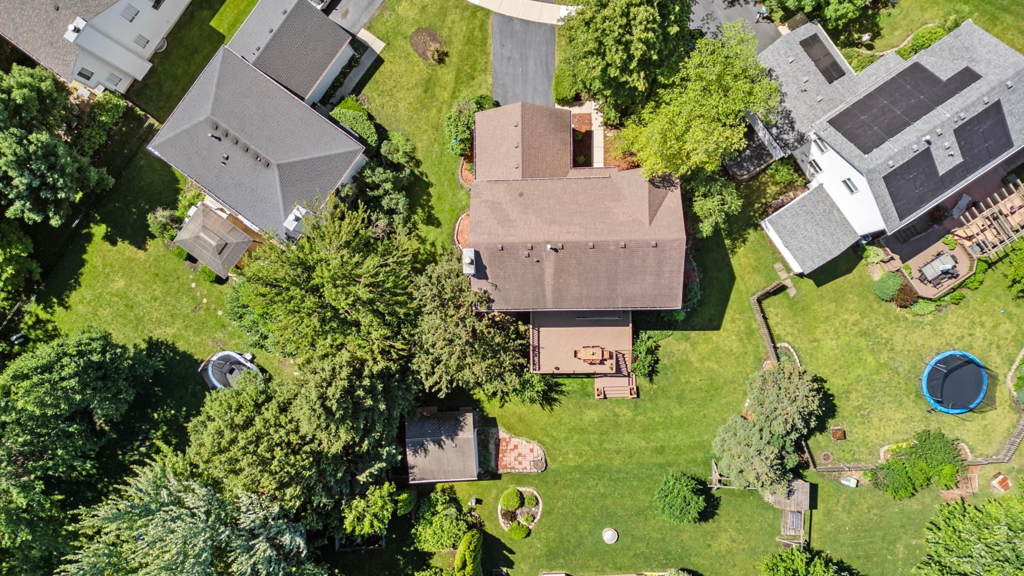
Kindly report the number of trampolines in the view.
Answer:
2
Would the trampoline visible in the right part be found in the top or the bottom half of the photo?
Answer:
bottom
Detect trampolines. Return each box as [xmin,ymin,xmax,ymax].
[915,347,1001,419]
[199,349,268,407]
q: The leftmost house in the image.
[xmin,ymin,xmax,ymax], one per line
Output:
[0,0,192,101]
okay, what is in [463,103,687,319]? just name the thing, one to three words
house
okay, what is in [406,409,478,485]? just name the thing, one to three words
shed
